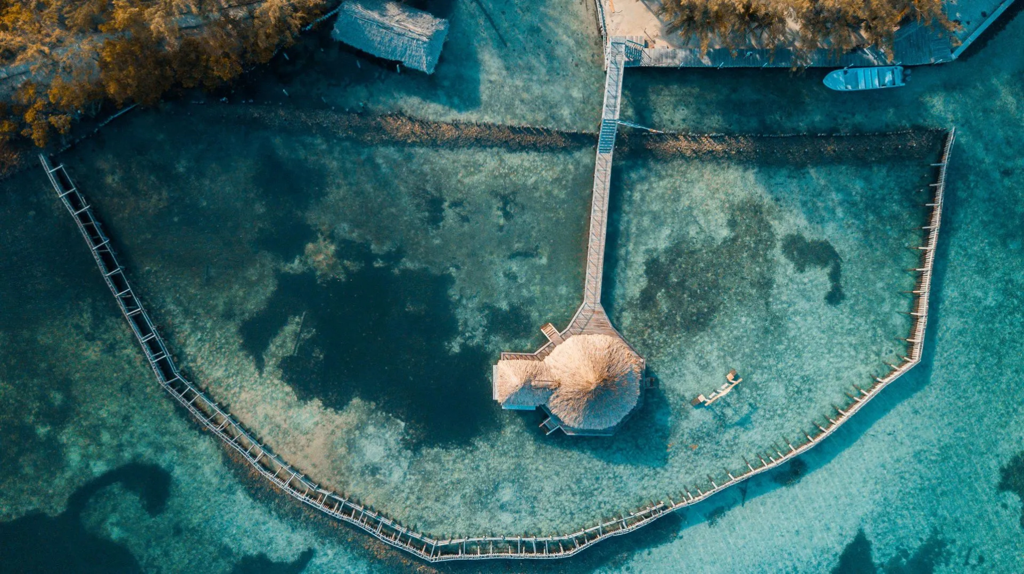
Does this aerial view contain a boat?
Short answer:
Yes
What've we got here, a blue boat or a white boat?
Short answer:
blue boat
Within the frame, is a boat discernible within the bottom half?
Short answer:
No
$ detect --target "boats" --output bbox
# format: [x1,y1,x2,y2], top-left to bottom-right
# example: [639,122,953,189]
[824,65,911,90]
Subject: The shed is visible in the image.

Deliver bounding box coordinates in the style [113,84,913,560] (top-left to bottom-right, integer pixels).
[329,0,451,78]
